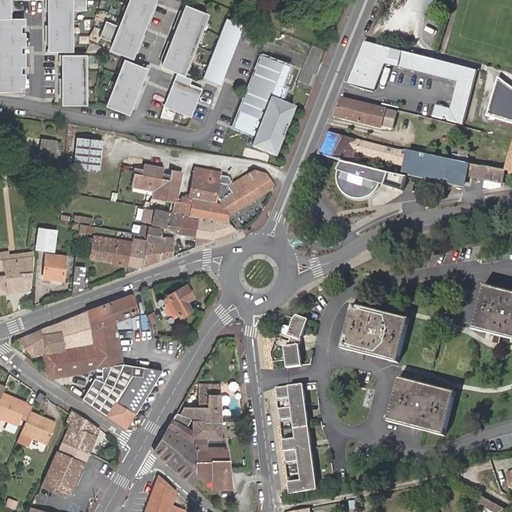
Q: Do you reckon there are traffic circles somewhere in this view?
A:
Yes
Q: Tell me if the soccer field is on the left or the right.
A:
right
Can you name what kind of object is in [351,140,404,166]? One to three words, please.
house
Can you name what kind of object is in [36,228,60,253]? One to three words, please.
barn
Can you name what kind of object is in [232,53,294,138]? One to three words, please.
building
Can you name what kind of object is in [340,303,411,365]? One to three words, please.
building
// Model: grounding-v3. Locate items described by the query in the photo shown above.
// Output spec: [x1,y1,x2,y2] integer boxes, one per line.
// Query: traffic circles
[223,237,296,310]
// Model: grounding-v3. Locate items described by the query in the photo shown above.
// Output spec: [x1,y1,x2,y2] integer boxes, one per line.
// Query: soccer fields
[448,0,512,72]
